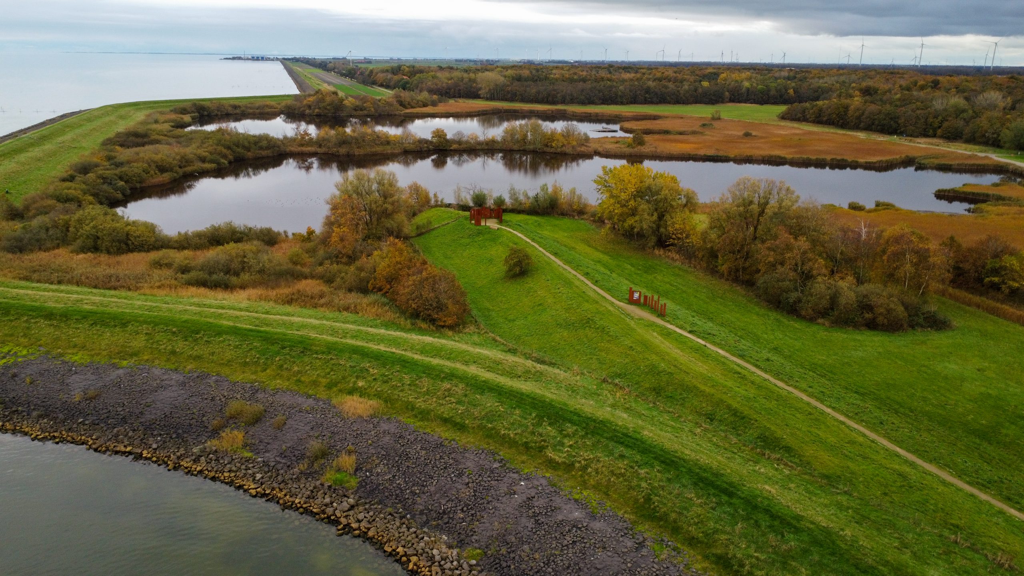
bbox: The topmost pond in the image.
[195,112,686,140]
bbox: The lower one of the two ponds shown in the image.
[126,150,1024,234]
